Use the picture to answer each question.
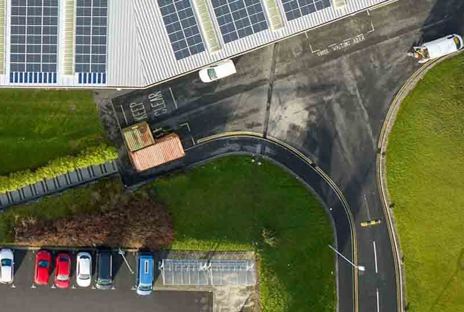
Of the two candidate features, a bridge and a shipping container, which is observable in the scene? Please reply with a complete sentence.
It is a shipping container that can be seen here.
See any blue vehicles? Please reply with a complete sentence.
Yes, the photo shows a blue vehicle.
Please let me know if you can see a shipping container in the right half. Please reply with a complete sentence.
No, no shipping container appears in the right half.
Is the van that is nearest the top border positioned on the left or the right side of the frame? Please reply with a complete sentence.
It is on the right.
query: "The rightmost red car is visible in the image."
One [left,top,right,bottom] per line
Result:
[54,251,71,286]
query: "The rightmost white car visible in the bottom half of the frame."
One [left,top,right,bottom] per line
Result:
[75,250,93,284]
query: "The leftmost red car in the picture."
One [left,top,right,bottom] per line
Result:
[34,249,52,284]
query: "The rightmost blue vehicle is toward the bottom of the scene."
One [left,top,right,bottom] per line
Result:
[134,248,155,294]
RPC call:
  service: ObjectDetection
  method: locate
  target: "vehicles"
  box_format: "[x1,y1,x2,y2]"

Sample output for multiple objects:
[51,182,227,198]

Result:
[0,247,15,284]
[408,33,464,70]
[54,251,71,286]
[34,249,52,284]
[95,248,114,287]
[75,250,93,284]
[134,248,155,294]
[196,58,239,85]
